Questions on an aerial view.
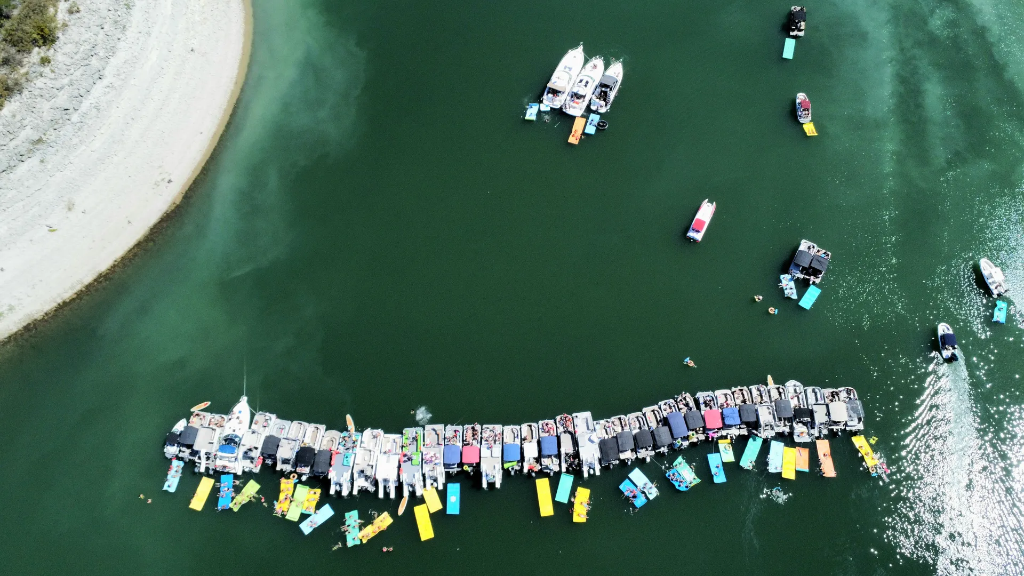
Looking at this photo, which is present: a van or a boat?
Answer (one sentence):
Visible in the photo is a boat.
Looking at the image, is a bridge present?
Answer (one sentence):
No, no bridge is visible in the view.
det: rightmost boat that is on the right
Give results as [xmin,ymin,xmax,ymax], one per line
[979,258,1006,301]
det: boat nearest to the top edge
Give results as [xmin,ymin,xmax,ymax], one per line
[789,5,808,38]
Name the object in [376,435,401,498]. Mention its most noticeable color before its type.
white boat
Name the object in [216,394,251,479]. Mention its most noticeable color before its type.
white boat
